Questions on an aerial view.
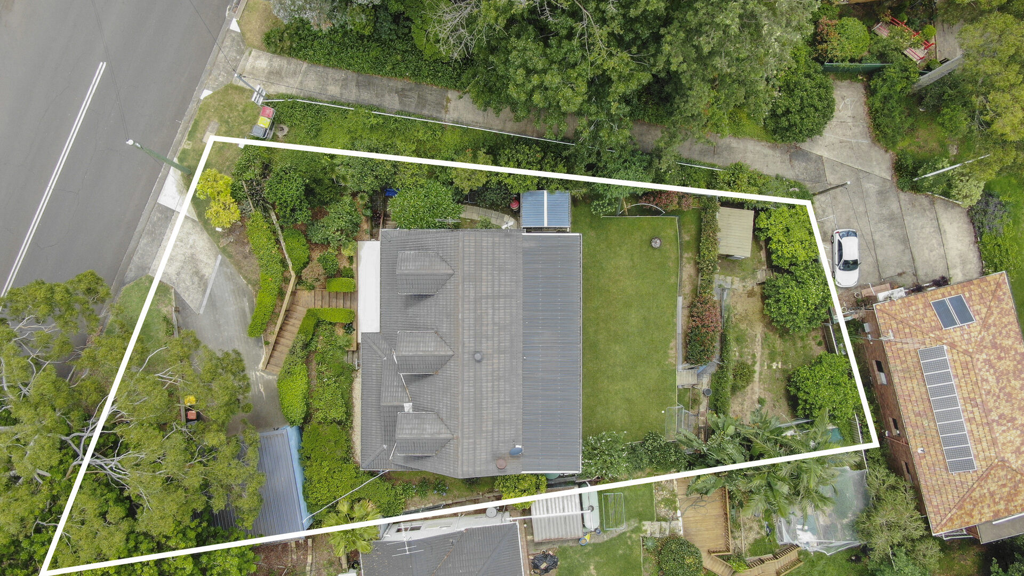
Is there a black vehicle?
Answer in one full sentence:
No, no black vehicle is visible in the scene.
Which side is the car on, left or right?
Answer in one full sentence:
The car appears in the right half of the scene.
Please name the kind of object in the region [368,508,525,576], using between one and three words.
house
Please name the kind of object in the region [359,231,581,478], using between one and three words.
house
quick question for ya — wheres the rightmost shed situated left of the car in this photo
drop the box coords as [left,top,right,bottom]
[715,206,754,261]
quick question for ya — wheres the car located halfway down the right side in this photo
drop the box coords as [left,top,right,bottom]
[827,227,863,290]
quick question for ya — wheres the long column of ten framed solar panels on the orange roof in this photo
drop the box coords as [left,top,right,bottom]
[918,343,976,476]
